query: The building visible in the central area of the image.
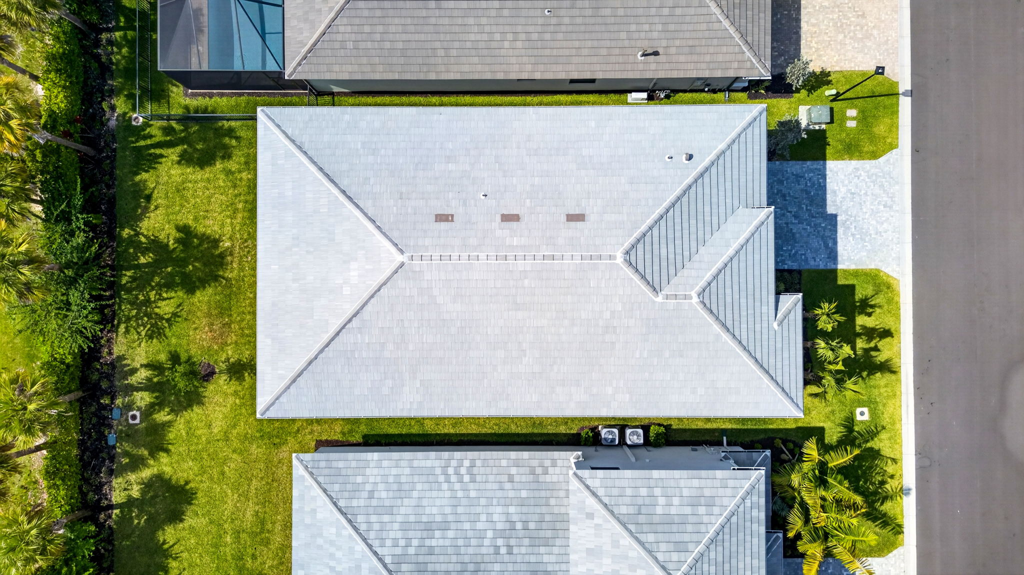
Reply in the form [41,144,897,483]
[257,105,804,418]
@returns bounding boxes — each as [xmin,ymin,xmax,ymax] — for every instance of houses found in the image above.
[291,436,784,575]
[284,0,773,100]
[257,105,804,418]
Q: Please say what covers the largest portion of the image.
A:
buildings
